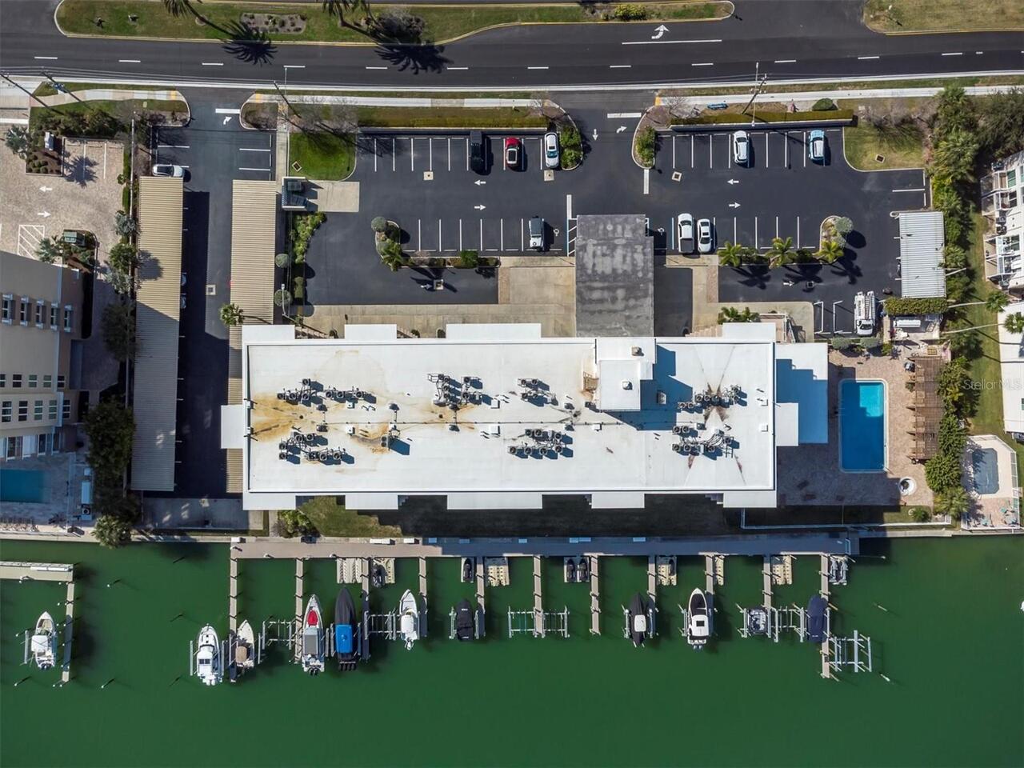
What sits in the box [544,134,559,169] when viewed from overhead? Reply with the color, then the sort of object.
white car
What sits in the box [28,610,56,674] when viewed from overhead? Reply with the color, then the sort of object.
white boat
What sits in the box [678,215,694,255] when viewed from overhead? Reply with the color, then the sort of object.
white vehicle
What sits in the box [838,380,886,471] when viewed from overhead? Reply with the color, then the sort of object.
blue swimming pool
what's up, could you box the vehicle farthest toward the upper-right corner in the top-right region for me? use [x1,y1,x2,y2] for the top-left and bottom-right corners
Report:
[808,133,825,163]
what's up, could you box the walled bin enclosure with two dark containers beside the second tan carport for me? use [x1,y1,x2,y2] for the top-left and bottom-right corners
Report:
[282,177,309,213]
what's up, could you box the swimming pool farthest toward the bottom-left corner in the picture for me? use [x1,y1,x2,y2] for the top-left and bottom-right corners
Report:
[0,468,44,503]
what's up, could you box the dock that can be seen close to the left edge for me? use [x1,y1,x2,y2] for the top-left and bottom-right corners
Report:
[0,562,75,682]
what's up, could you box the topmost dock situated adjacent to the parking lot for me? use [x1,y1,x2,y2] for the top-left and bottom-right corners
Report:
[231,535,859,559]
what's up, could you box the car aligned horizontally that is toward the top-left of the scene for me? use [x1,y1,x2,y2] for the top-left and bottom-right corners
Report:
[153,163,188,178]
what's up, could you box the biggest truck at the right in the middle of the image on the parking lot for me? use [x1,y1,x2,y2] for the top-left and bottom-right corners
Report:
[853,289,877,335]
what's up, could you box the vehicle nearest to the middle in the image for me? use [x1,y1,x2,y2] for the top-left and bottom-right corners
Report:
[529,215,544,249]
